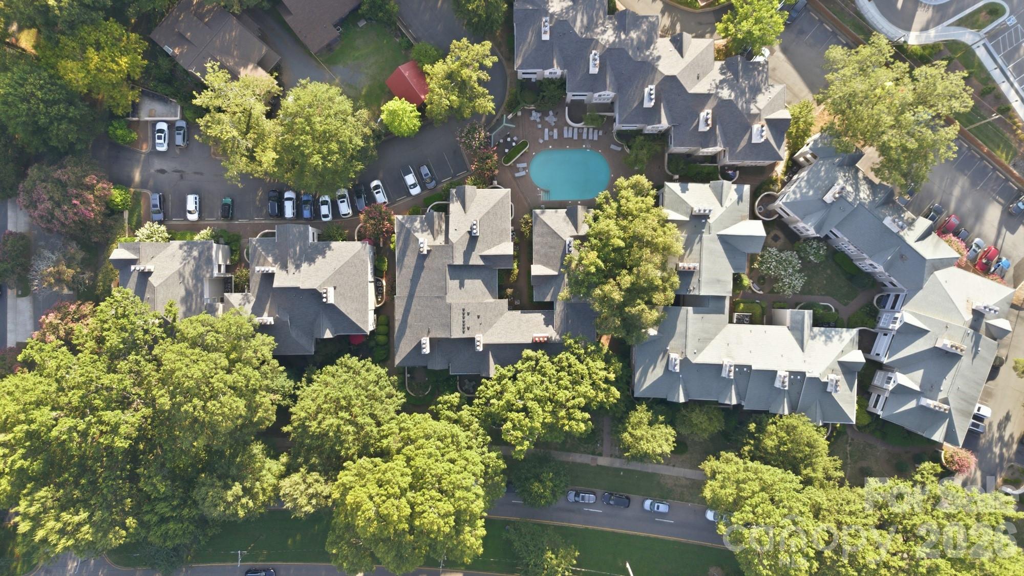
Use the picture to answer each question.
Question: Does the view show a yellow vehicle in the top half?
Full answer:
No, no yellow vehicle appears in the top half.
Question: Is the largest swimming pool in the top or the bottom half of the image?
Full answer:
You can find the largest swimming pool in the top half.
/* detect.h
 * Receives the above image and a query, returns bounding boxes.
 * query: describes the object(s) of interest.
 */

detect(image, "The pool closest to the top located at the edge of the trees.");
[529,148,610,200]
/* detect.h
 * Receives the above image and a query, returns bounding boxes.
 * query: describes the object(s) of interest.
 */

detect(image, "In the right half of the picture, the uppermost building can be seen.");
[514,0,794,167]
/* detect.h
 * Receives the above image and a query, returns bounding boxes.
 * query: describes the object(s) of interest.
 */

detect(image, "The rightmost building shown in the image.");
[768,136,1018,448]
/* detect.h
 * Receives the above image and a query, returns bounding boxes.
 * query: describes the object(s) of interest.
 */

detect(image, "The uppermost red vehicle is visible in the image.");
[936,212,961,240]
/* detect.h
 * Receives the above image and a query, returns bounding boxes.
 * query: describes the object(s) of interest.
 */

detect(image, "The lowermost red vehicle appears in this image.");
[973,244,1001,273]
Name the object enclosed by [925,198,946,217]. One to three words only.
car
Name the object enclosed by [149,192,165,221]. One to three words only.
car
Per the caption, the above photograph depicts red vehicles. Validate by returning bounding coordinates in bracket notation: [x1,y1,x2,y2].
[973,244,1001,273]
[936,212,961,240]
